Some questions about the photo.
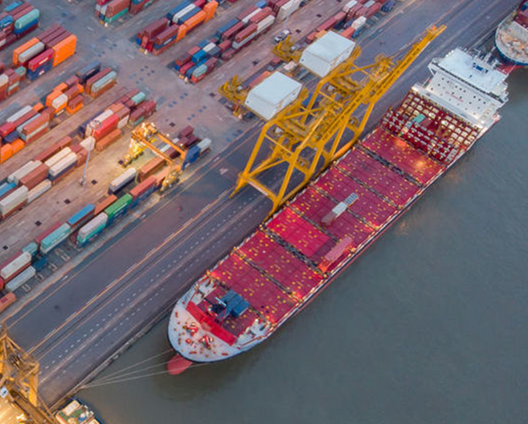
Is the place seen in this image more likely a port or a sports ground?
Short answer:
port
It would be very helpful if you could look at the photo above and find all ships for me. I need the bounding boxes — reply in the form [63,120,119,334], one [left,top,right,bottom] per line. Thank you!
[52,400,100,424]
[491,7,528,79]
[160,45,520,379]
